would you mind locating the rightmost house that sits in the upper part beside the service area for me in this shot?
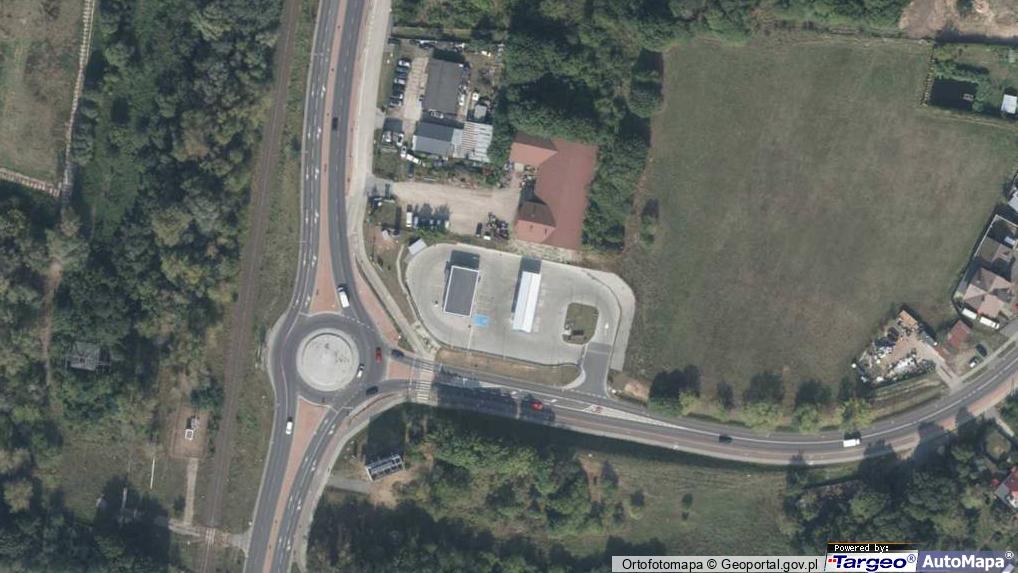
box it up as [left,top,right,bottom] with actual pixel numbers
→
[510,131,597,248]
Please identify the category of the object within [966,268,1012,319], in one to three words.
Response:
house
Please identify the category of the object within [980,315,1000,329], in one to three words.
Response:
vehicle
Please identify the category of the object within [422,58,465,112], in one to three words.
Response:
building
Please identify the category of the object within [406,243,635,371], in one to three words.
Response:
service area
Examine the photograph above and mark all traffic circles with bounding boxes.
[270,313,385,407]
